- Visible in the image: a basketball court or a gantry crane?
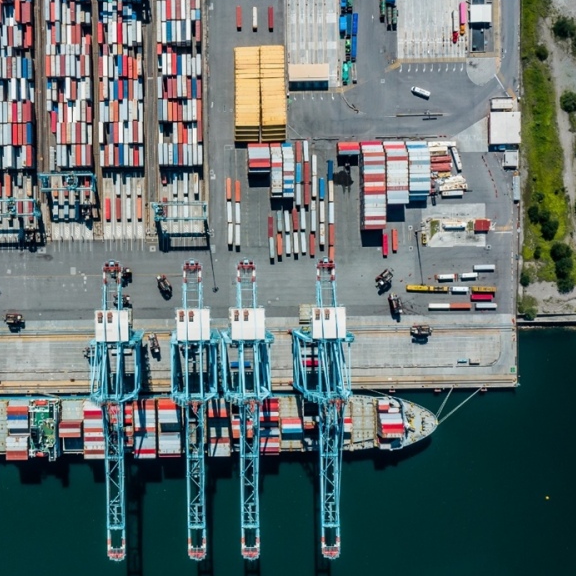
gantry crane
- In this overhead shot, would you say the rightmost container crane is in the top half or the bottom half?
bottom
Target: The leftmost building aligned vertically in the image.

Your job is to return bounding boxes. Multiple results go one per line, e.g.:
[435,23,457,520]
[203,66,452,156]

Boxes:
[471,23,485,53]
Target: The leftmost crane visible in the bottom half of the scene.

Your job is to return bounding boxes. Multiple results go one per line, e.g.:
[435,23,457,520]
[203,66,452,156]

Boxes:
[91,262,150,561]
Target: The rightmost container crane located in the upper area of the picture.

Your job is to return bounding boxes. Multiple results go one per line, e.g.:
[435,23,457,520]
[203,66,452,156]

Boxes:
[154,200,210,227]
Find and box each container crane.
[217,261,275,559]
[167,261,223,560]
[0,197,43,225]
[154,200,210,227]
[282,260,354,558]
[91,262,150,561]
[40,173,100,201]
